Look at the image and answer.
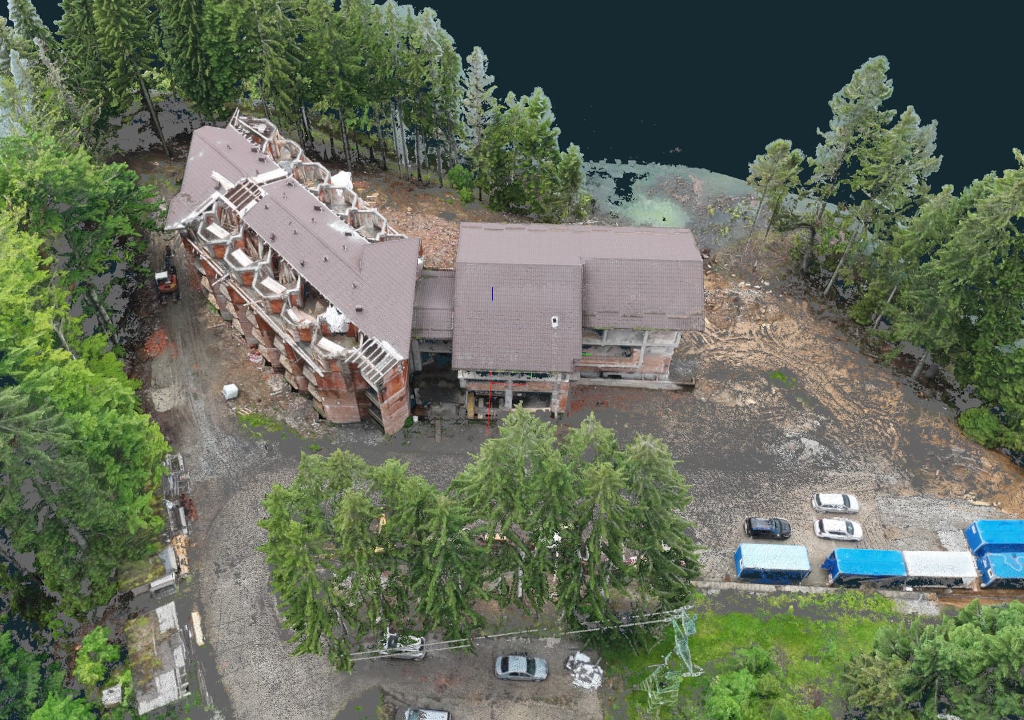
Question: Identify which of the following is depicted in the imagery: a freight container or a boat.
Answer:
freight container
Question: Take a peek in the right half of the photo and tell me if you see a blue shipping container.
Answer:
Yes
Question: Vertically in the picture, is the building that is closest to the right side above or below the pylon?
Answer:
above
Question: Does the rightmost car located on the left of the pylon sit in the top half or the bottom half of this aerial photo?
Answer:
bottom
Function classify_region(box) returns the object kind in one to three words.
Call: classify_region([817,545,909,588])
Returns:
shipping container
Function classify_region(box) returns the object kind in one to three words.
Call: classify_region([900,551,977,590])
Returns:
shipping container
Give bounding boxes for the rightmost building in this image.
[451,226,707,416]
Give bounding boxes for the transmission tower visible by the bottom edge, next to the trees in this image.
[640,600,711,720]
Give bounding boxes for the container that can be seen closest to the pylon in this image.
[735,544,812,583]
